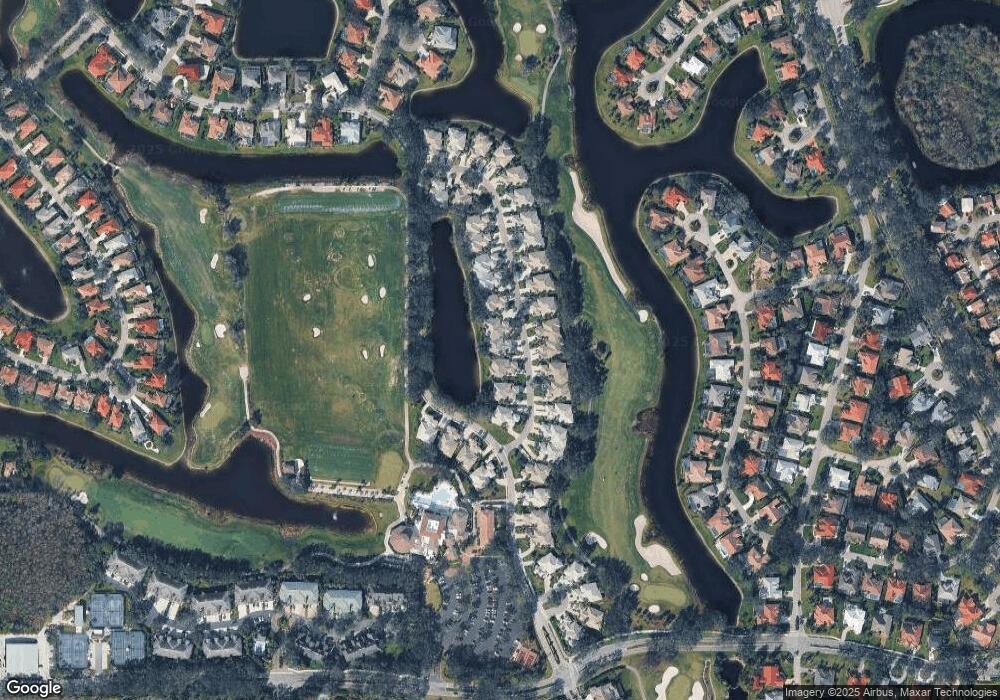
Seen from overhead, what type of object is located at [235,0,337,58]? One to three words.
pond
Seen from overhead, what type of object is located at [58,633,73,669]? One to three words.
tennis court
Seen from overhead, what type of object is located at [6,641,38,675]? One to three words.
building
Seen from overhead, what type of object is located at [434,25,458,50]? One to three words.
house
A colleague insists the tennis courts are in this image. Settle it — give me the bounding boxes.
[128,631,145,665]
[111,631,128,665]
[58,633,73,669]
[107,594,124,628]
[91,594,107,628]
